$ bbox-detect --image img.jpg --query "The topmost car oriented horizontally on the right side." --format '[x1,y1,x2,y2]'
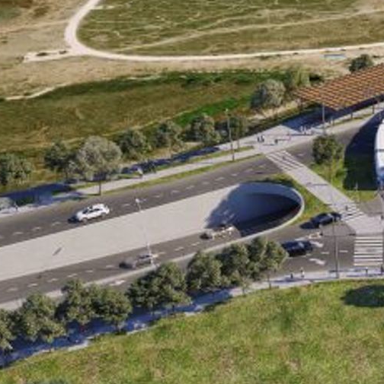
[307,209,342,227]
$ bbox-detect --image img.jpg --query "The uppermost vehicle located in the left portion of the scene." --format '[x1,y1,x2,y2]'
[74,201,110,223]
